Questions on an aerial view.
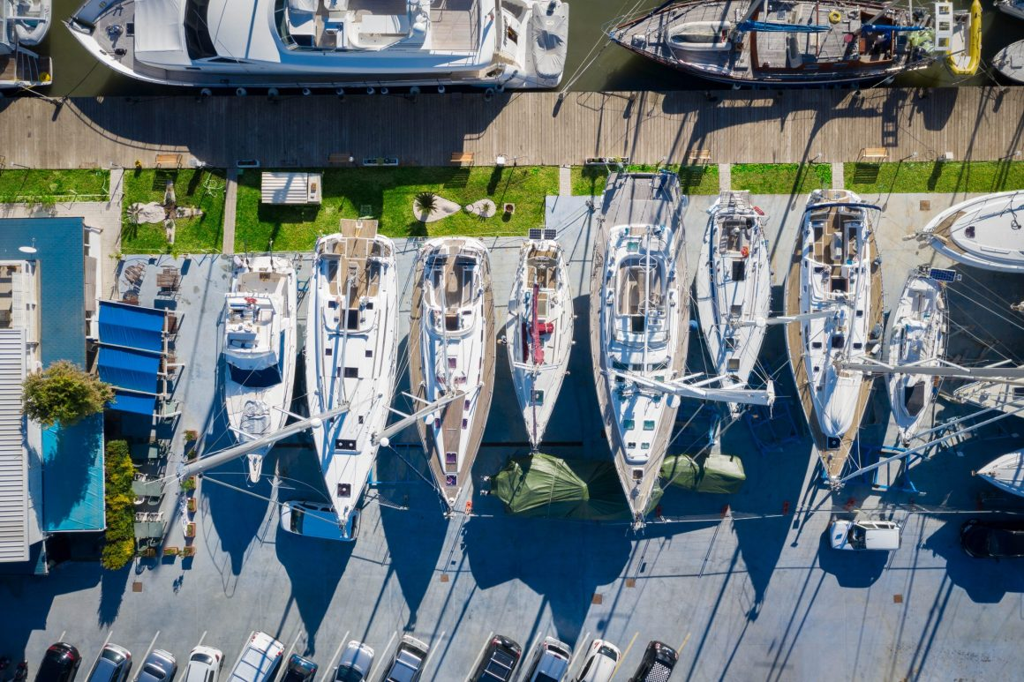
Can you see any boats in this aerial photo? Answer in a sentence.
Yes, there's a boat here.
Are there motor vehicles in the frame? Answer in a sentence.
Yes, there's a motor vehicle down there.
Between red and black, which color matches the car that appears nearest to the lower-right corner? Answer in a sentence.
The car that appears nearest to the lower-right corner is black.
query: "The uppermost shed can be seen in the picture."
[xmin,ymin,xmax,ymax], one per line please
[262,173,329,210]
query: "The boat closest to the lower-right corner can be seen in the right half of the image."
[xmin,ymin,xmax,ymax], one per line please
[969,447,1024,496]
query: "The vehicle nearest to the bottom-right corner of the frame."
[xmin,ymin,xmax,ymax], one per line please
[953,516,1024,561]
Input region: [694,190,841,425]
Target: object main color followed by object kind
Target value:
white boat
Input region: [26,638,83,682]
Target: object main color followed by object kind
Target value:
black car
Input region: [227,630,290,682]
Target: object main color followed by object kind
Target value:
white car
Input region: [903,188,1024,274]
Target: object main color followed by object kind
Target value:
white boat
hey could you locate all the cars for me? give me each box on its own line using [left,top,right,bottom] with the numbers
[83,639,138,682]
[953,516,1024,561]
[26,638,83,682]
[824,517,906,558]
[277,651,322,682]
[465,632,524,682]
[624,639,679,682]
[134,647,184,682]
[566,636,622,682]
[375,633,432,682]
[515,632,574,682]
[174,642,227,682]
[325,638,378,682]
[227,630,290,682]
